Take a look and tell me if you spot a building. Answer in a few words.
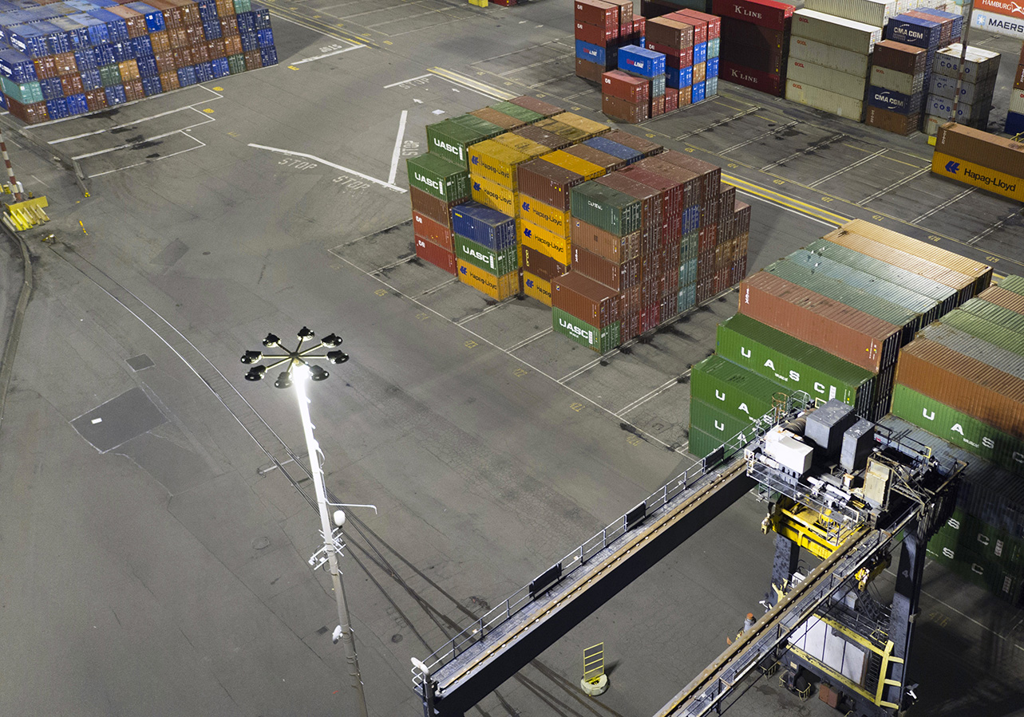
No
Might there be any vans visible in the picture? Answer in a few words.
No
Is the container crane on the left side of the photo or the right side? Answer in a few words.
right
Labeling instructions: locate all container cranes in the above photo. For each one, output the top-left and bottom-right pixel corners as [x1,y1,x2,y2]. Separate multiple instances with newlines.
[378,379,979,717]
